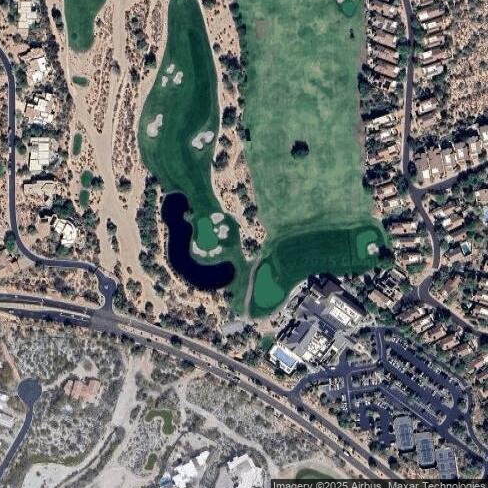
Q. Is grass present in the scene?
Yes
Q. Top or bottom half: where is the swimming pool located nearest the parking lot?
bottom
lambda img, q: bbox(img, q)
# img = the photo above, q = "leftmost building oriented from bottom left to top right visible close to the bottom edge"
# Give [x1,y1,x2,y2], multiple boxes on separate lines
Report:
[171,448,211,488]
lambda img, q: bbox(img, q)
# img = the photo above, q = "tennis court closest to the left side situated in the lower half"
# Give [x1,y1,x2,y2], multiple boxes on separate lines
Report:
[394,417,415,451]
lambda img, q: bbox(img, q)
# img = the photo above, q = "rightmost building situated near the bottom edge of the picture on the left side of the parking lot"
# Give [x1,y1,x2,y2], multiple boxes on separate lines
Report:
[229,452,264,488]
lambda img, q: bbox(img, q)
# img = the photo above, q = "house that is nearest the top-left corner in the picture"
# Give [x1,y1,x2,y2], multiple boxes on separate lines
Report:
[15,0,37,37]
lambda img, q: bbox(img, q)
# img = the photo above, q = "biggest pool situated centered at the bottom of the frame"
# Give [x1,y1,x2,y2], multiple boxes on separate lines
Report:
[274,346,297,366]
